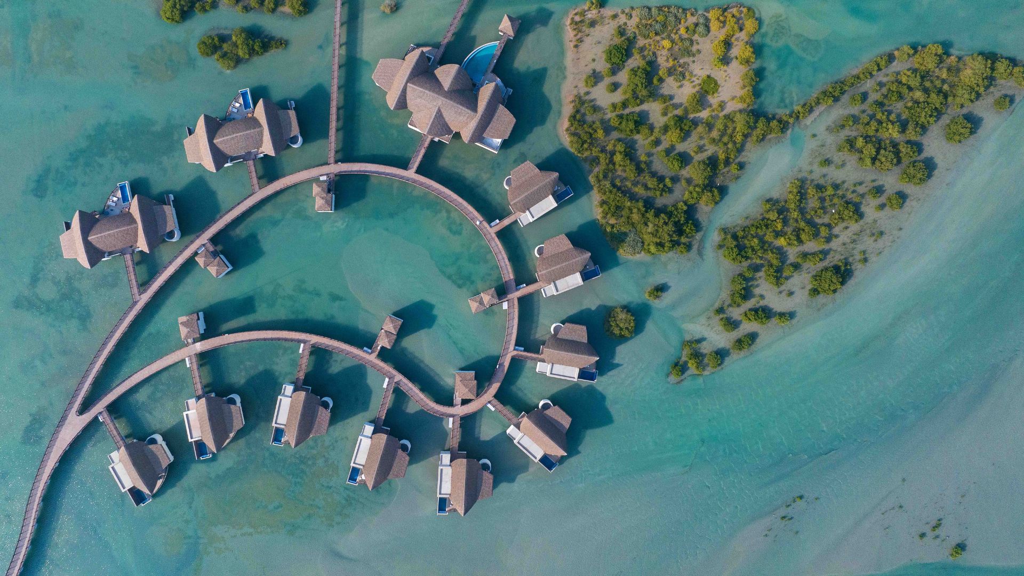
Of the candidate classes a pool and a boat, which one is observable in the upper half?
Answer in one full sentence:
Looking in the upper half, you will find a pool.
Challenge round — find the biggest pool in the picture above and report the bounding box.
[461,41,500,87]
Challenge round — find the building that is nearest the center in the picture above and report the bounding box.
[468,288,498,313]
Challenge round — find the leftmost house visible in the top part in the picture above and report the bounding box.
[62,186,183,268]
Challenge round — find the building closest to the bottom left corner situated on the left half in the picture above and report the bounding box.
[108,433,179,508]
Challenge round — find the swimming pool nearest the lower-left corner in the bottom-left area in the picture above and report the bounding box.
[131,485,153,506]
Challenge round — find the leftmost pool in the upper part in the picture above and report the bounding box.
[118,182,134,205]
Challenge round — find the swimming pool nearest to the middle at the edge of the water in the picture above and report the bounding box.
[581,266,603,284]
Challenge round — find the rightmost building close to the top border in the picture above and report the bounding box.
[499,14,521,42]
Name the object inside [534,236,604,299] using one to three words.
house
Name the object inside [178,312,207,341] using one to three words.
building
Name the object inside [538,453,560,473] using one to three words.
swimming pool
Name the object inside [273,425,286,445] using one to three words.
swimming pool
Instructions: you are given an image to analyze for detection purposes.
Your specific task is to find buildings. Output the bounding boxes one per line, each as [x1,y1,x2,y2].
[372,35,516,155]
[313,182,336,212]
[195,249,235,278]
[534,236,604,299]
[535,324,599,384]
[178,312,207,341]
[108,433,179,508]
[506,400,571,475]
[185,92,304,172]
[270,380,334,447]
[378,314,404,349]
[346,420,412,489]
[185,391,249,459]
[62,186,183,268]
[468,288,498,313]
[437,448,493,515]
[504,164,577,229]
[454,370,477,404]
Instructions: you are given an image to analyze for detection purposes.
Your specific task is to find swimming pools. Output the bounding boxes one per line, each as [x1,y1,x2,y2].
[239,89,255,111]
[196,437,213,458]
[118,182,134,205]
[438,495,450,513]
[349,464,363,484]
[538,453,560,473]
[131,485,153,506]
[273,425,286,445]
[578,370,599,382]
[461,41,500,87]
[554,187,575,206]
[581,266,603,284]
